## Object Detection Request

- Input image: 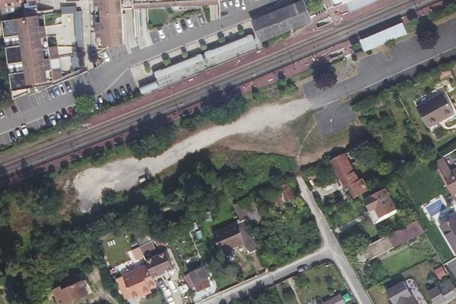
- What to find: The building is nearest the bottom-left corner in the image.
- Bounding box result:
[53,280,91,304]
